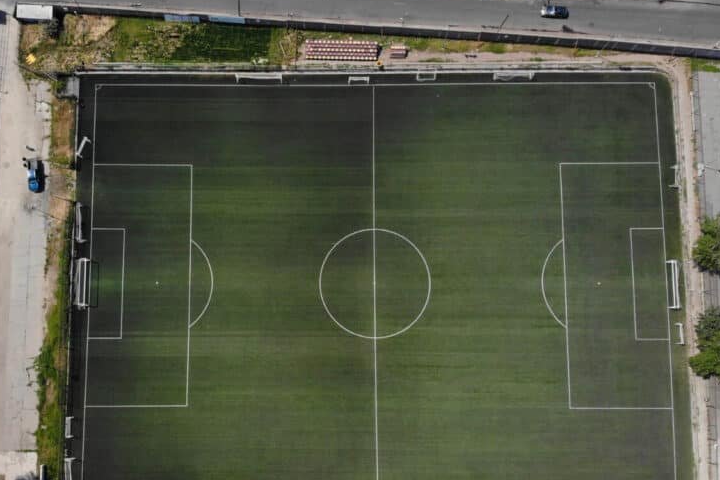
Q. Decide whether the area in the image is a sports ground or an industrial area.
sports ground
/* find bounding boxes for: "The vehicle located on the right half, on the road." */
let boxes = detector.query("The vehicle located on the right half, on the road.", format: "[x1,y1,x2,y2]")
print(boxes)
[541,4,569,18]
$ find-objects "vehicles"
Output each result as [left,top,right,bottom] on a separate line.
[541,4,569,18]
[26,158,41,190]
